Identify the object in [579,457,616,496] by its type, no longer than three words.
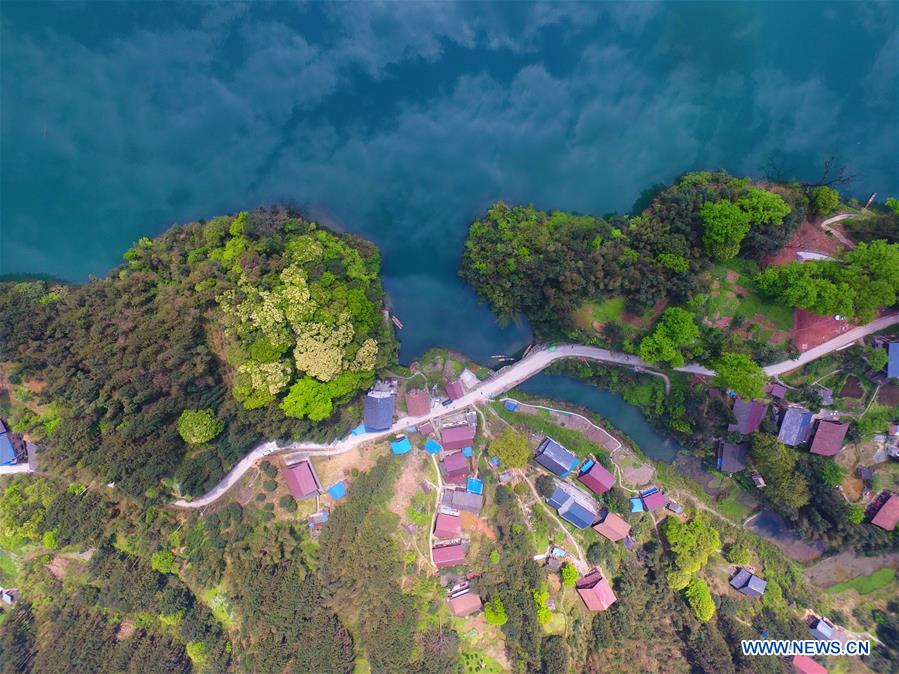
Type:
house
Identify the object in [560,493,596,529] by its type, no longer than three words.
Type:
house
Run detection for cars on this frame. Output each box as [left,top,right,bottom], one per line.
[442,398,453,405]
[433,398,441,408]
[263,448,272,456]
